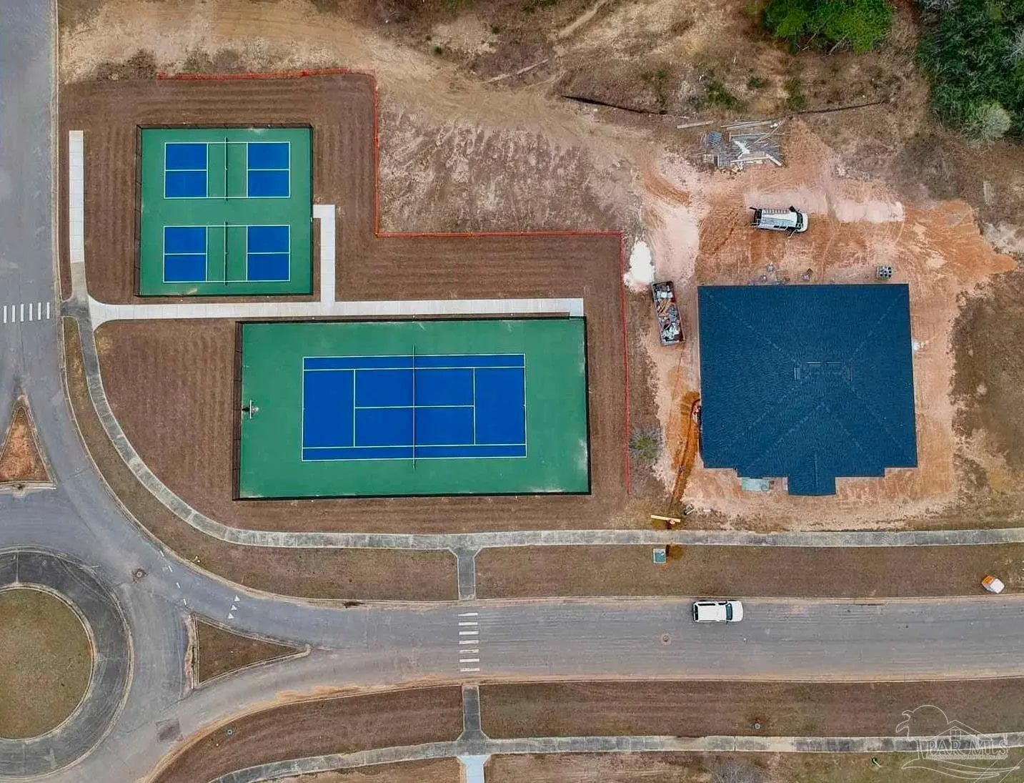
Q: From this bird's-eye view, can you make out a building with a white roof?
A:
No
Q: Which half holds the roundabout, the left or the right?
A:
left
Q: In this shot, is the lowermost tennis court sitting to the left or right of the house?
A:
on the left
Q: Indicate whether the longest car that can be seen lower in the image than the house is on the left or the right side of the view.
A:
right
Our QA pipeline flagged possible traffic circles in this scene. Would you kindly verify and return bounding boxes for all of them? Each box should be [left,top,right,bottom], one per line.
[0,544,135,782]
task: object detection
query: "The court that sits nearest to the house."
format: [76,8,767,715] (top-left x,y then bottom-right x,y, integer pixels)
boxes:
[241,320,588,498]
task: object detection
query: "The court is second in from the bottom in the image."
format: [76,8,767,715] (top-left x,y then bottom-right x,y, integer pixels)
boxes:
[139,211,312,295]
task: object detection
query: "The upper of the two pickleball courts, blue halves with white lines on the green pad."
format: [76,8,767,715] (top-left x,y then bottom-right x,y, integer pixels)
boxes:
[141,128,312,212]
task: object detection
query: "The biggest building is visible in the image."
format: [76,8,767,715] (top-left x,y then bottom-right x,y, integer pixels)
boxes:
[697,283,918,495]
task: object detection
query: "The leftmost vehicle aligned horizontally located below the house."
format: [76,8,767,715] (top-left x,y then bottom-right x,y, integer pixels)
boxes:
[692,600,743,623]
